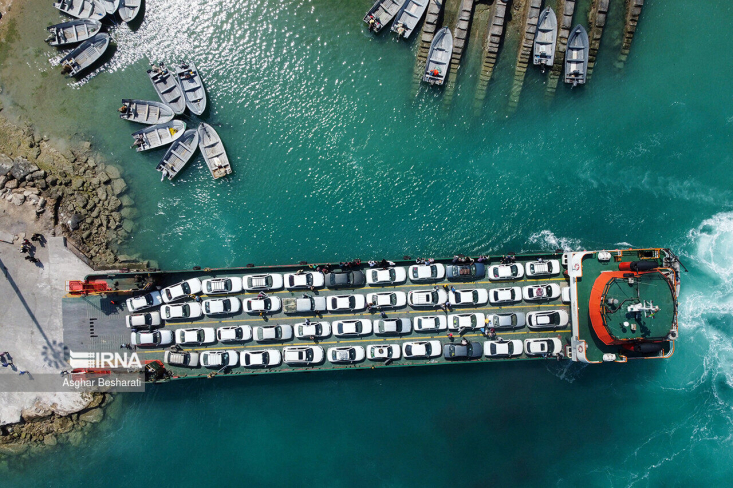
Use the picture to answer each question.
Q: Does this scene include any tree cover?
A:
No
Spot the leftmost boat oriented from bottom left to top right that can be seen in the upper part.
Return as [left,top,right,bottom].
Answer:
[58,34,112,77]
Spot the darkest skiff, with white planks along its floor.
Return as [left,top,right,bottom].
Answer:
[564,25,587,87]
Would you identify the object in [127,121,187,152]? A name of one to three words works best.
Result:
boat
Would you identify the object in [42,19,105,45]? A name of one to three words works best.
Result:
boat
